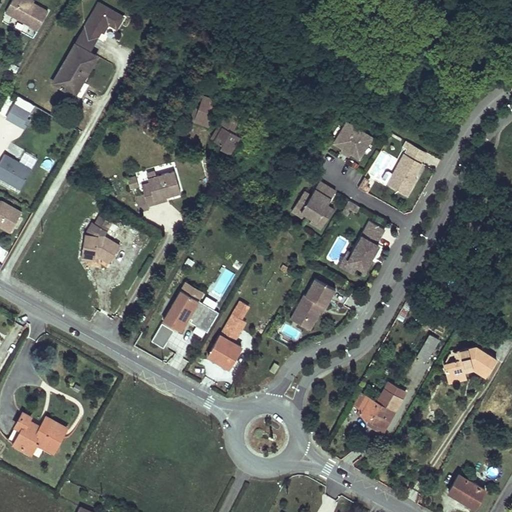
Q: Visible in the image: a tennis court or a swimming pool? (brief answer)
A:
swimming pool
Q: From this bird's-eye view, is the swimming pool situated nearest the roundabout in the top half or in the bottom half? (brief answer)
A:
bottom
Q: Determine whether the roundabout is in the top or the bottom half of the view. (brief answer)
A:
bottom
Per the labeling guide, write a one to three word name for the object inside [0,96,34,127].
building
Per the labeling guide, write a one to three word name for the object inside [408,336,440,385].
shed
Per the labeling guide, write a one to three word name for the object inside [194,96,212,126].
house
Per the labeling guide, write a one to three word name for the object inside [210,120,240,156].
house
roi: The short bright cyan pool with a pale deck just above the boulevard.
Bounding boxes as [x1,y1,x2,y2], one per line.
[278,323,302,344]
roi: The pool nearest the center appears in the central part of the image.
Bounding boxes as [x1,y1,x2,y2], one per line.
[208,264,236,302]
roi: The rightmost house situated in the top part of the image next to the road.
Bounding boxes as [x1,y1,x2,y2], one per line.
[368,141,440,198]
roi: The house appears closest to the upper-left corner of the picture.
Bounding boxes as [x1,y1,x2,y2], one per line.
[2,0,50,38]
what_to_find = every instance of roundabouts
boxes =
[224,394,308,478]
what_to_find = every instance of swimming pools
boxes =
[488,467,499,478]
[208,264,236,302]
[326,238,348,264]
[40,157,55,172]
[278,323,302,344]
